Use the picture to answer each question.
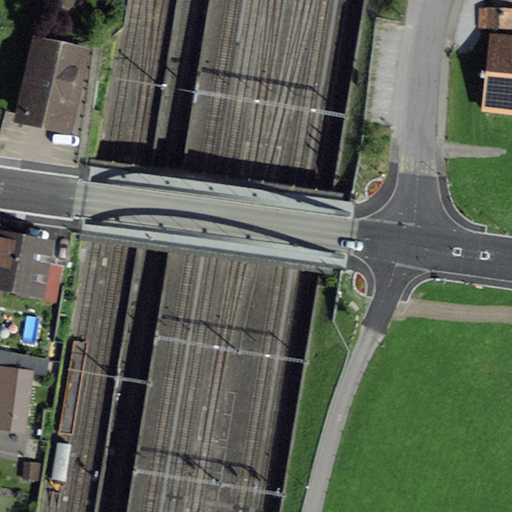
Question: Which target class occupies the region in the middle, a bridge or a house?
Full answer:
What appears in the middle is a bridge.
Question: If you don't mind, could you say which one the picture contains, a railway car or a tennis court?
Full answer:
The image shows a railway car.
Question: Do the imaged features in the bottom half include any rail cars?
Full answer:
Yes, in the bottom half there is a rail car.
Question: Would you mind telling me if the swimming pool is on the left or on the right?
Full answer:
The swimming pool sits on the left side.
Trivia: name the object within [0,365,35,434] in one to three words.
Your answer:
house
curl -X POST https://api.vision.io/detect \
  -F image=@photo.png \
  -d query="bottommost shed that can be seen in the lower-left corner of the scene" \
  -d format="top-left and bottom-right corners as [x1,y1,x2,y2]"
[22,462,42,482]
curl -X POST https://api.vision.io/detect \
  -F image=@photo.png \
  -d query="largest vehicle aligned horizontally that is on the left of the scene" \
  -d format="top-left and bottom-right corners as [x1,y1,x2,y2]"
[50,134,80,148]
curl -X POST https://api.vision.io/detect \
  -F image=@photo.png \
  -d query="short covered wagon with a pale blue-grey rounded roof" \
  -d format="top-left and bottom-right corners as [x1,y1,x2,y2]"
[52,440,70,484]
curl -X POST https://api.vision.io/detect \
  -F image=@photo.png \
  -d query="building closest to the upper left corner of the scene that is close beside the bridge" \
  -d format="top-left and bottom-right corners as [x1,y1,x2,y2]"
[14,37,92,134]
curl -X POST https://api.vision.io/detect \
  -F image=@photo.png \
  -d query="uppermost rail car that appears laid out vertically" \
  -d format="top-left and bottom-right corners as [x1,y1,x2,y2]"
[59,339,86,437]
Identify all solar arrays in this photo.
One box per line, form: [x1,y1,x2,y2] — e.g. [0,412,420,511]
[486,76,512,112]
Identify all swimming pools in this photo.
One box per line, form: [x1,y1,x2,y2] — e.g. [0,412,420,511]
[20,315,42,348]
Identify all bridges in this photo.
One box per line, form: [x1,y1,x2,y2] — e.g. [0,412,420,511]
[80,160,356,274]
